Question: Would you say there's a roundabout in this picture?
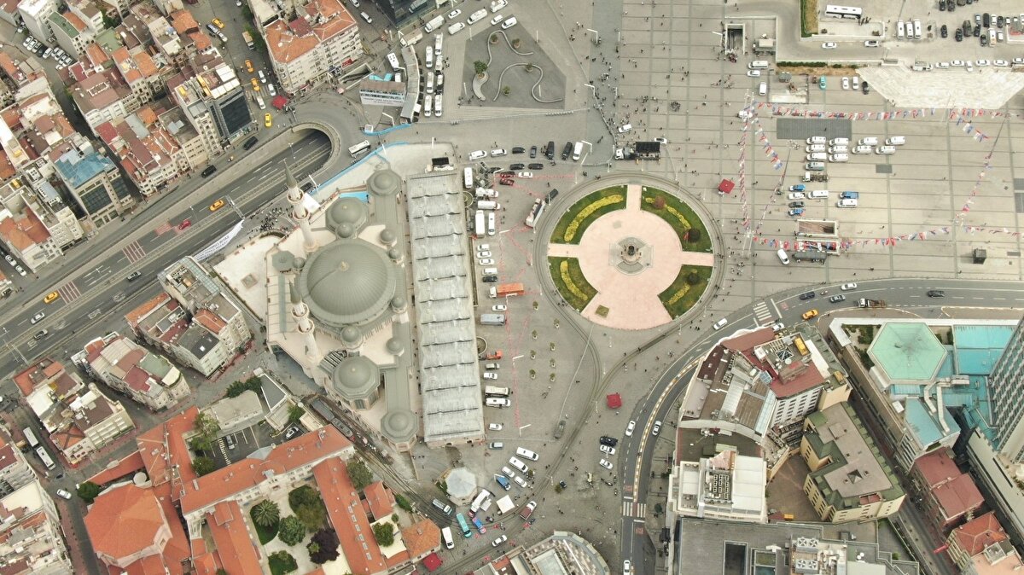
Yes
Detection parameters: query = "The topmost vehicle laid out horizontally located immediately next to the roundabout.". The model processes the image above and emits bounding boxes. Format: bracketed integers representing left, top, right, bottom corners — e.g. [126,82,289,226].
[614,145,662,160]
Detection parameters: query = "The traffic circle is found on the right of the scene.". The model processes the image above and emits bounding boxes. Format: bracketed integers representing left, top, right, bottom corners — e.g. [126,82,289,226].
[532,172,728,345]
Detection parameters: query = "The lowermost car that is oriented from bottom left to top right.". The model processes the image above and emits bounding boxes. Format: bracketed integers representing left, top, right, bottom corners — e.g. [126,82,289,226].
[492,535,508,547]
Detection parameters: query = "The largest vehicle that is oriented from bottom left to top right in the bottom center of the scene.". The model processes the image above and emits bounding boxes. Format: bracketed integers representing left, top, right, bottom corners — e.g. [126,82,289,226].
[466,484,492,519]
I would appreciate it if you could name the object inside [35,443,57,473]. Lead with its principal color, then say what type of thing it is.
white bus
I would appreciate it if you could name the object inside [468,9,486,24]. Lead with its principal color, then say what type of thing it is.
white vehicle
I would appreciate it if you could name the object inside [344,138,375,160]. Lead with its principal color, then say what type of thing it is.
white bus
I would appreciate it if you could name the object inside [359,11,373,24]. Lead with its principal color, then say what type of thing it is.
white vehicle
